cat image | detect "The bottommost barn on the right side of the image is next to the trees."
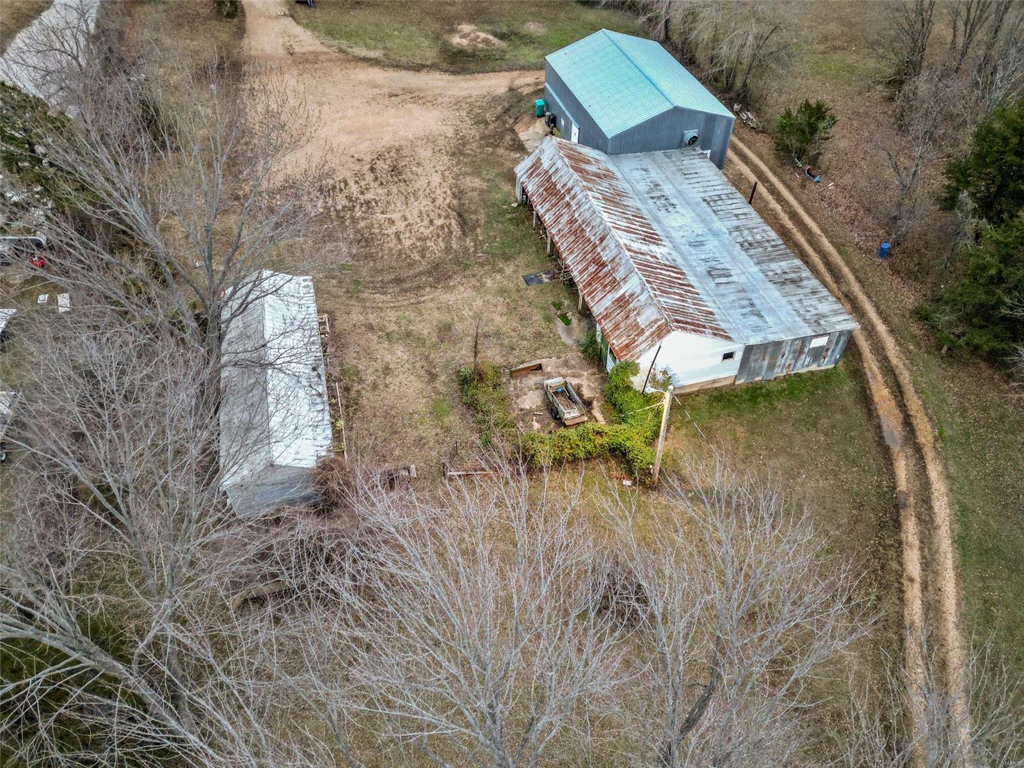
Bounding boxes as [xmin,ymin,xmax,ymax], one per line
[517,136,860,409]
